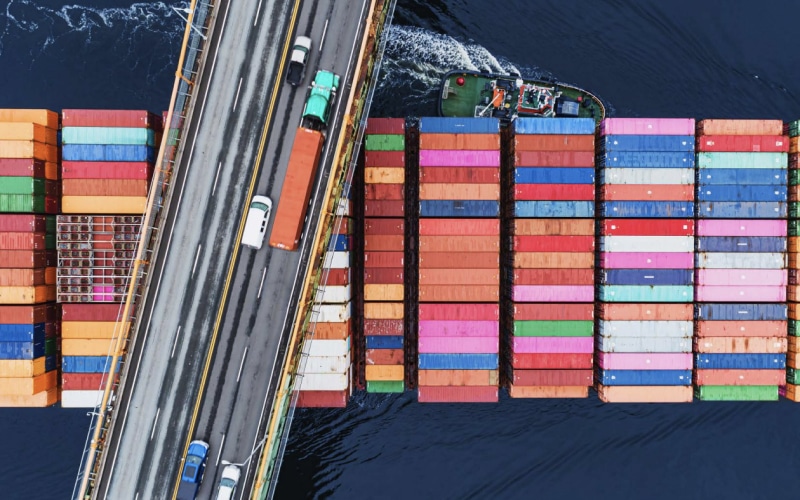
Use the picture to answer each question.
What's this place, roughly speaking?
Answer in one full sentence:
The picture captures a port.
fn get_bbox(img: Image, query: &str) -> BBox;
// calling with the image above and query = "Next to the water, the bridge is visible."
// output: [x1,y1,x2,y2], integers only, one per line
[73,0,395,500]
